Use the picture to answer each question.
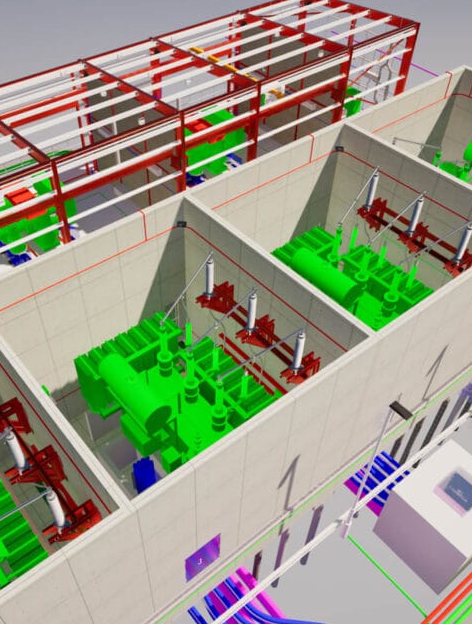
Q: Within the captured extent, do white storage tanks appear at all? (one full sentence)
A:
No, this view has no white storage tank in it.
